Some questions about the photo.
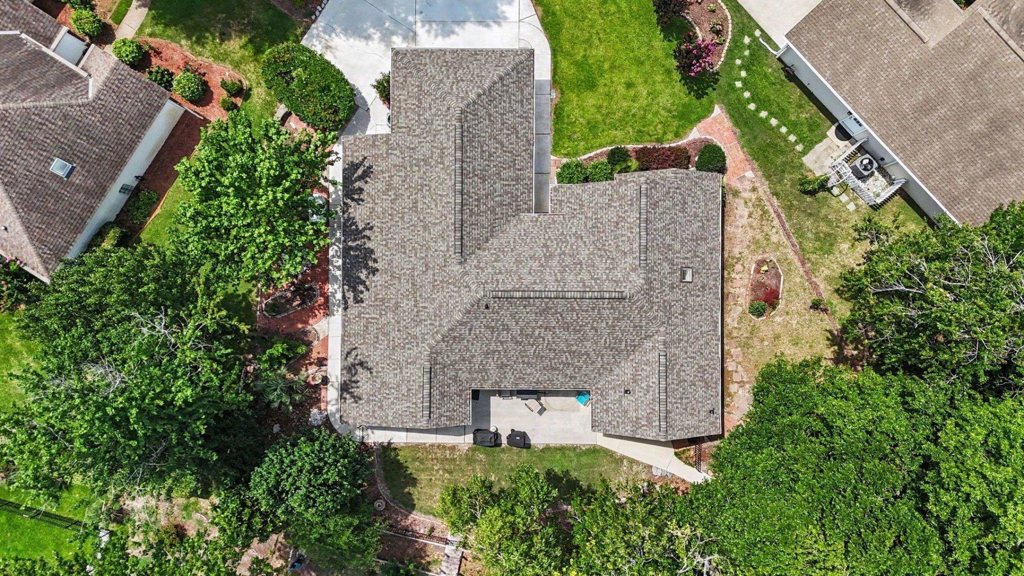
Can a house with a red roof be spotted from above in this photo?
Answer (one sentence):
No, I find no house with a red roof anywhere in the image.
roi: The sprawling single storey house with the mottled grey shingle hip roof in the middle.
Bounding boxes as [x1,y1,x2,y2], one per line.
[339,48,721,442]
